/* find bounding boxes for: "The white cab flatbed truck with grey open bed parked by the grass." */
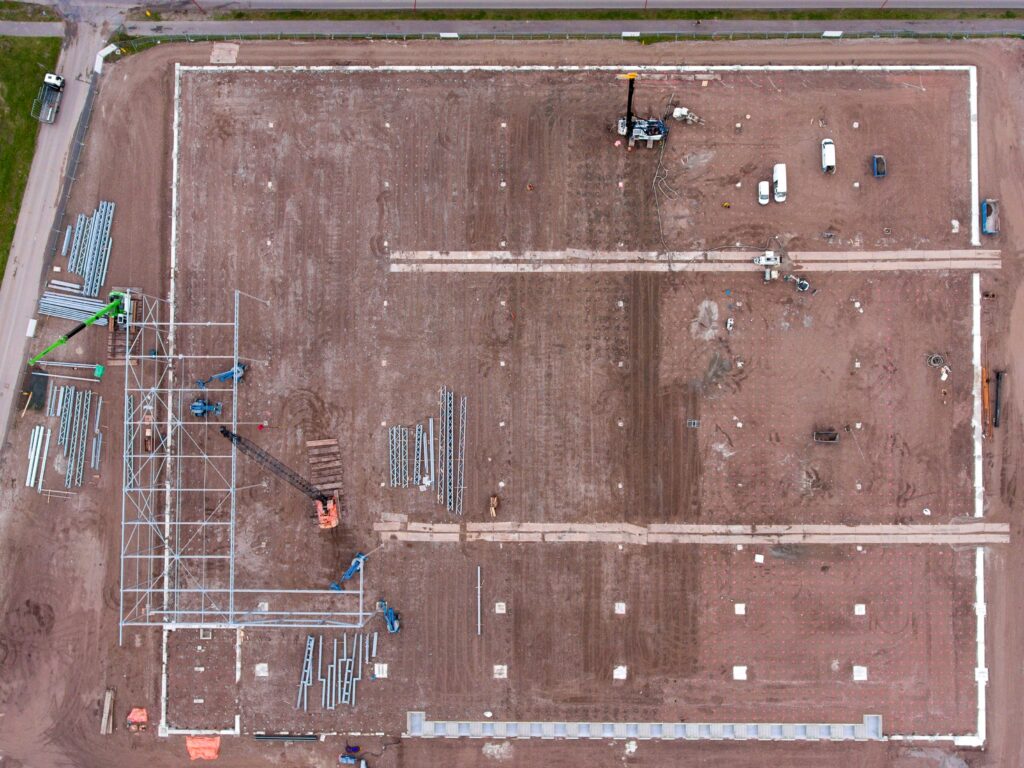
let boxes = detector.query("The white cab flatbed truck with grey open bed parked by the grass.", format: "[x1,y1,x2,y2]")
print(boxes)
[35,72,67,126]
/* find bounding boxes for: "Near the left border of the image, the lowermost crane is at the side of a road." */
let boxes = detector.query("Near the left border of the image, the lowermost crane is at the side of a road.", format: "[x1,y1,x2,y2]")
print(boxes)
[25,291,137,367]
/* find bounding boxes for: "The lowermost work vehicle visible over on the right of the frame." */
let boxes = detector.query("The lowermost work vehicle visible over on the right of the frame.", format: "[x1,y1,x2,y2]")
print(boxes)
[786,272,812,291]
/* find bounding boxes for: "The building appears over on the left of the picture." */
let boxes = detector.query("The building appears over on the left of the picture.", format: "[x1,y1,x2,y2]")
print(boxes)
[119,288,383,643]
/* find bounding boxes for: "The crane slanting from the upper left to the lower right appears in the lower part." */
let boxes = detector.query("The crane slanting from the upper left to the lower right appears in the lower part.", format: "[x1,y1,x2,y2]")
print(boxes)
[219,428,343,530]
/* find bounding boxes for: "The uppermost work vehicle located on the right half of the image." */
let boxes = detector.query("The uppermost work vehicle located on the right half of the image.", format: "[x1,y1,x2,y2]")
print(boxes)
[672,103,709,126]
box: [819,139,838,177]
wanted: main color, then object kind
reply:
white vehicle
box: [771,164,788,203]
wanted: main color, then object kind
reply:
white vehicle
